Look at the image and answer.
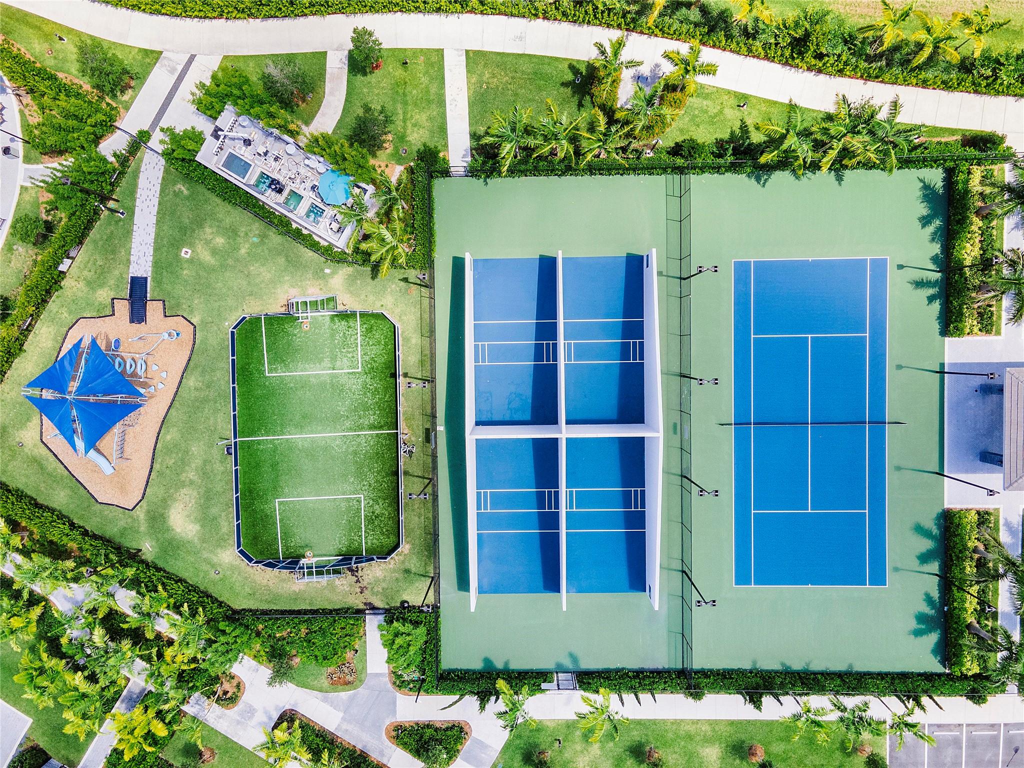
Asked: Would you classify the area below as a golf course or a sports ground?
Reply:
sports ground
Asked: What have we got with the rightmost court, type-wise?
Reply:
tennis court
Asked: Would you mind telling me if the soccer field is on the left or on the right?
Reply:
left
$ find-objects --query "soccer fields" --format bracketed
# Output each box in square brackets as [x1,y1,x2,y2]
[229,294,404,584]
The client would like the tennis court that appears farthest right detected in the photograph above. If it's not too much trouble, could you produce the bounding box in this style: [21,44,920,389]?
[681,166,950,678]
